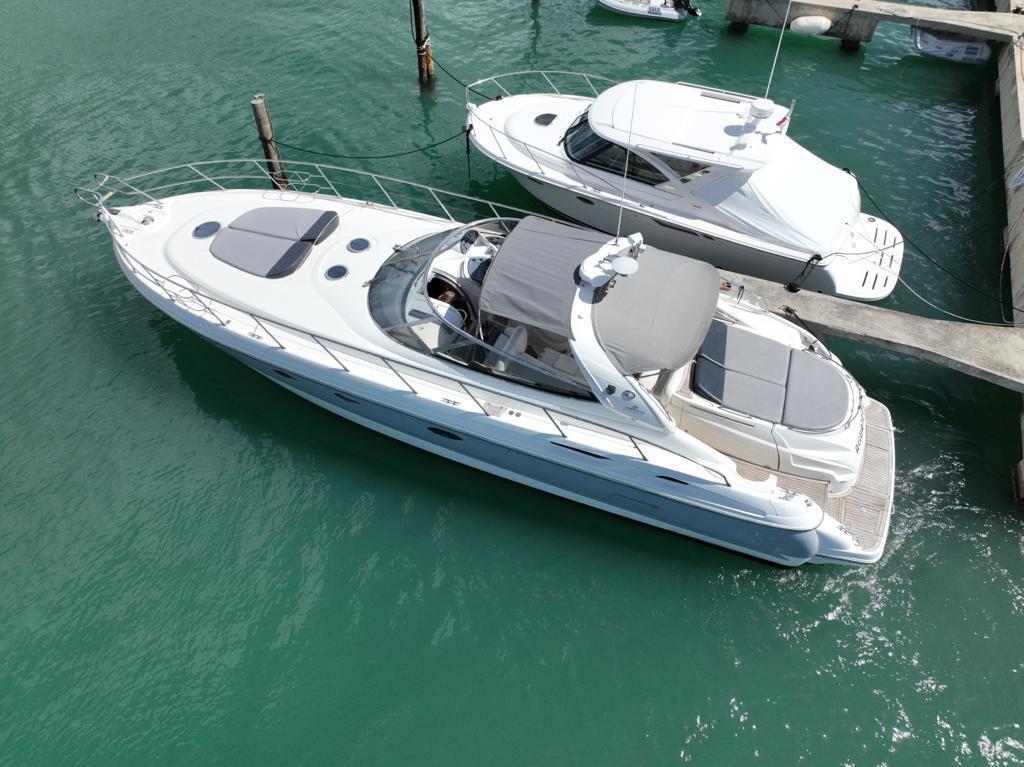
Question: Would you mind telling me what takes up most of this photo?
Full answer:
The bulk of the photo consists of water.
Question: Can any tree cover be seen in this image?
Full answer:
No, there's no tree cover in this view.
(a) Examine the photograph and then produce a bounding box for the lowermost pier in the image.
[707,272,1024,401]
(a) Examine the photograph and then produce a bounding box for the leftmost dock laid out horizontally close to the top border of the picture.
[726,0,1012,52]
